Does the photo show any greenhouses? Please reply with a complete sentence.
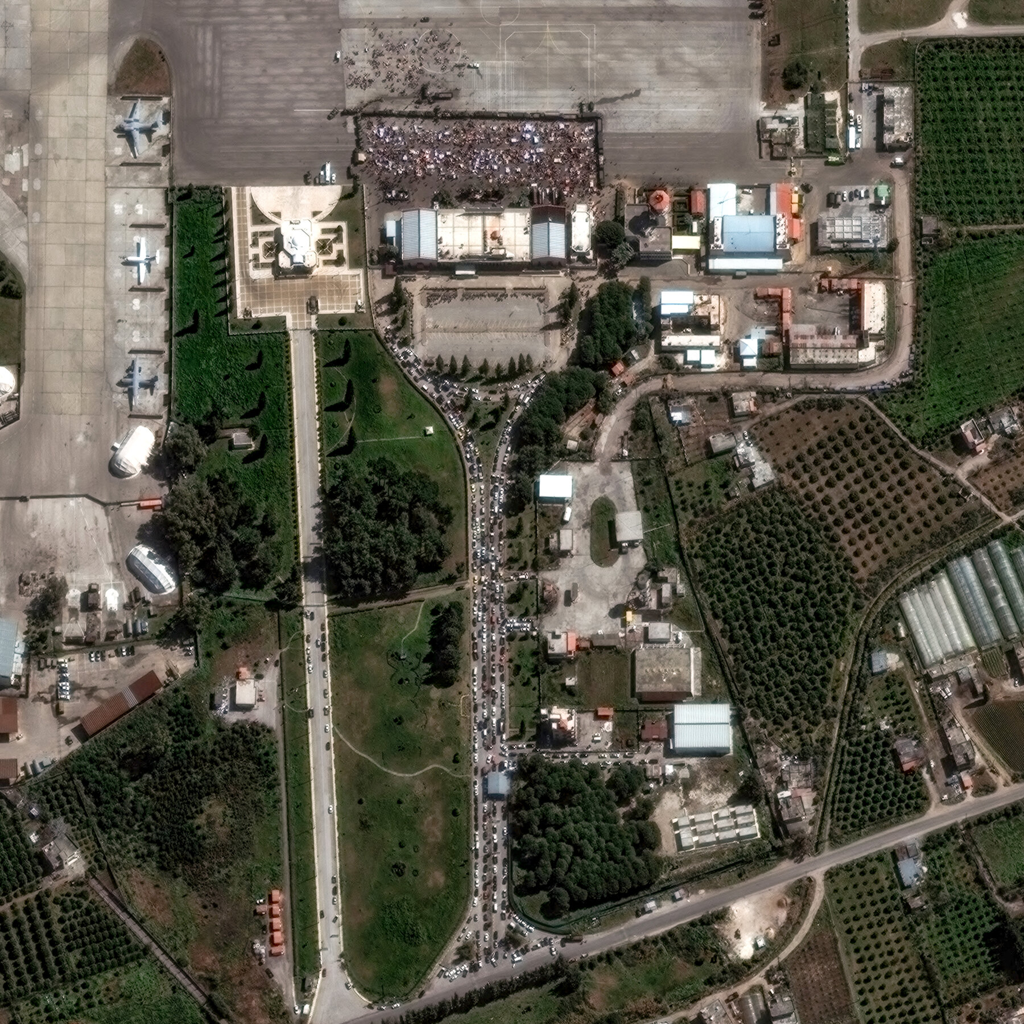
Yes, this view includes a greenhouse.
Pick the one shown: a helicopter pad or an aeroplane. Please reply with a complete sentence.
Looking from above, you can make out an aeroplane.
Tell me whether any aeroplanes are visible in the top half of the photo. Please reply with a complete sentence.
Yes, an aeroplane can be seen in the top half of the photo.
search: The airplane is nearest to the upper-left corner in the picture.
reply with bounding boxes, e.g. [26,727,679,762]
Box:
[115,101,155,150]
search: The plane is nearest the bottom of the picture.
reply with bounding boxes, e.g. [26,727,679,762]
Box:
[116,357,159,405]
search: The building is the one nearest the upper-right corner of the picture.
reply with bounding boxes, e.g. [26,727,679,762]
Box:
[883,87,913,152]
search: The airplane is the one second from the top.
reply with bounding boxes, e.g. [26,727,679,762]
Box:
[125,237,160,280]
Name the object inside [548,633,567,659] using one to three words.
house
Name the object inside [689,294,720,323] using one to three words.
building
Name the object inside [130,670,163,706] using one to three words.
shed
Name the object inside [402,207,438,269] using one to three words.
hangar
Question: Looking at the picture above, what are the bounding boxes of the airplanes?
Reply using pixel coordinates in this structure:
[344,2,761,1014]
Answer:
[125,237,160,280]
[116,357,159,405]
[115,101,155,150]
